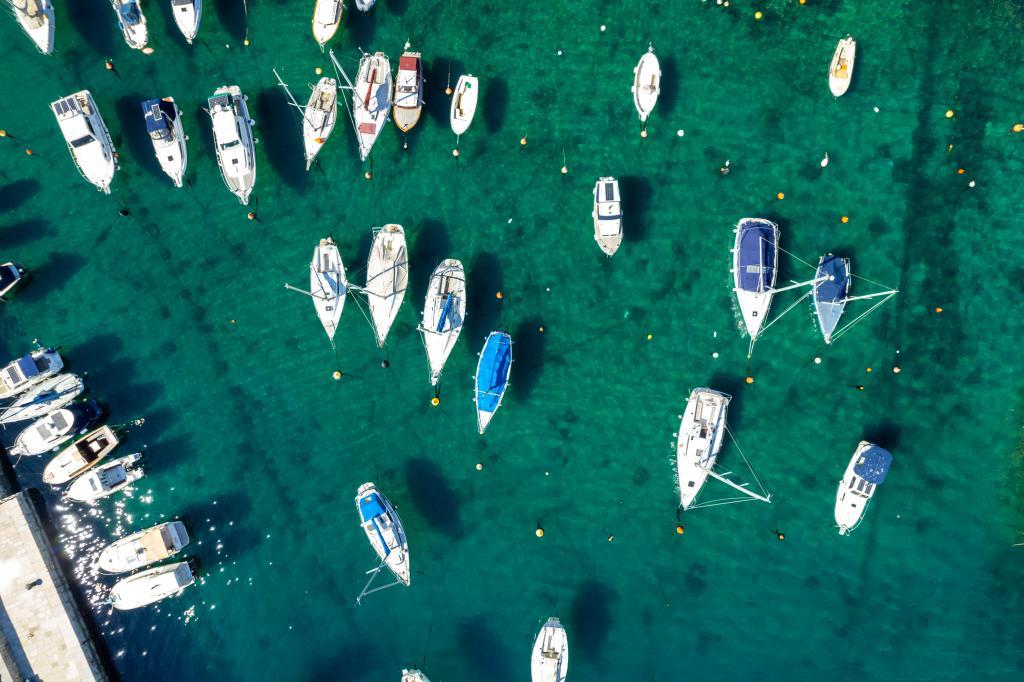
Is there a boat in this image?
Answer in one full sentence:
Yes, the image includes a boat.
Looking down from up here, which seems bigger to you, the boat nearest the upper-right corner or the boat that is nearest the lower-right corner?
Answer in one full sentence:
The boat that is nearest the lower-right corner covers a greater area than the boat nearest the upper-right corner.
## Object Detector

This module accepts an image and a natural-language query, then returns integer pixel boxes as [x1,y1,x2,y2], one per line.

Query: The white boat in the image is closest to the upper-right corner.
[828,35,856,96]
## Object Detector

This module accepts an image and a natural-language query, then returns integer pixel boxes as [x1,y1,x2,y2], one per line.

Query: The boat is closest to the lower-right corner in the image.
[835,435,894,533]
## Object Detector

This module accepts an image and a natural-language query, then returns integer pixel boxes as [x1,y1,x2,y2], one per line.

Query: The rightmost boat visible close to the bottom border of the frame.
[531,601,572,682]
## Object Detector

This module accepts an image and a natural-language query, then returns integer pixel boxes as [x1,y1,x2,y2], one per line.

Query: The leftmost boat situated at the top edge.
[5,0,55,55]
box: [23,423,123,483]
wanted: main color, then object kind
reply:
white boat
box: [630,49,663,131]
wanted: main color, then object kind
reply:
white boat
